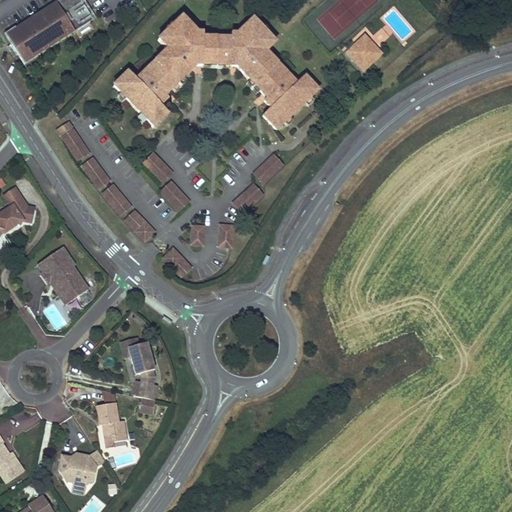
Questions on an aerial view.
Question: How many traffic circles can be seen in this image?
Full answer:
There are 2 traffic circles in the image.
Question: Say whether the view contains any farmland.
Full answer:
Yes, there is farmland in the image.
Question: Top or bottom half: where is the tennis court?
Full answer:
Seen from above, the tennis court lies in the top half of the view.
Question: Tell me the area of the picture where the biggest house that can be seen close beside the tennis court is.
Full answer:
Look in the top portion of the view to spot the biggest house that can be seen close beside the tennis court.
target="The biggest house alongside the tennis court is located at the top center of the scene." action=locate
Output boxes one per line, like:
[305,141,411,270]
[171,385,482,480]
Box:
[114,12,320,130]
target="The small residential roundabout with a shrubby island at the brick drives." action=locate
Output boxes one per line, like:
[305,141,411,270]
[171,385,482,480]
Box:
[7,350,63,404]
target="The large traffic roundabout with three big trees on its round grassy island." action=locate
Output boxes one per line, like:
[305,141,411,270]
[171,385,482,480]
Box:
[195,293,298,396]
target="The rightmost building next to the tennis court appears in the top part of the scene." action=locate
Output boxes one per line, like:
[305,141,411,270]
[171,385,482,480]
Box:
[345,33,383,72]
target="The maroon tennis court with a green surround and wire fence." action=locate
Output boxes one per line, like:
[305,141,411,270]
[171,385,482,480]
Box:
[301,0,392,51]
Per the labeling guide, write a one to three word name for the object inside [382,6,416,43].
swimming pool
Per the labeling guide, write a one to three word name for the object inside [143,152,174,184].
building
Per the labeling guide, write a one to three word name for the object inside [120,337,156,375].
house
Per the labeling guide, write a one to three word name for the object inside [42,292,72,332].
swimming pool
